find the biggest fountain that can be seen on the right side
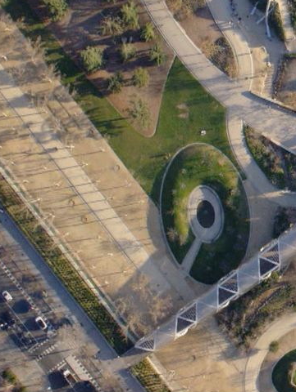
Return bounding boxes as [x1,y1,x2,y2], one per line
[187,185,224,243]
